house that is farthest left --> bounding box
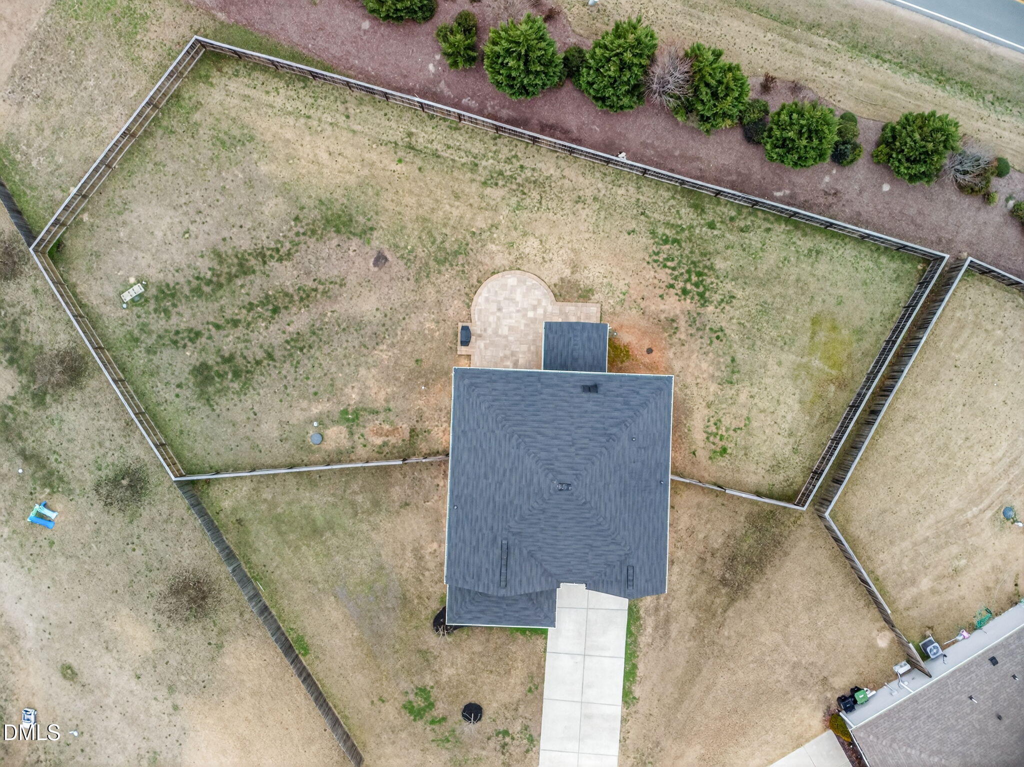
[444,322,677,630]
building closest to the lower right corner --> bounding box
[834,602,1024,767]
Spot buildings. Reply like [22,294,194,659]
[834,602,1024,767]
[444,322,677,630]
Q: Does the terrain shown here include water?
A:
No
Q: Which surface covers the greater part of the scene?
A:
grass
